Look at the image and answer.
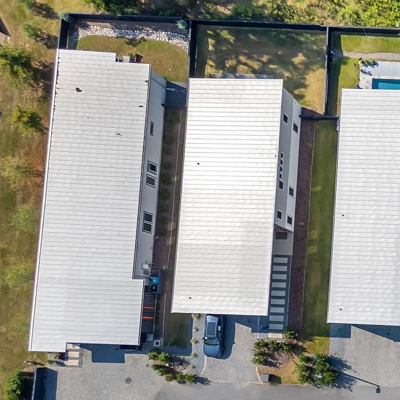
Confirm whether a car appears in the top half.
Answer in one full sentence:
No, no car can be made out in the top half.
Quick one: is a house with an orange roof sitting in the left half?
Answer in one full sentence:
No, no house with an orange roof can be made out in the left half.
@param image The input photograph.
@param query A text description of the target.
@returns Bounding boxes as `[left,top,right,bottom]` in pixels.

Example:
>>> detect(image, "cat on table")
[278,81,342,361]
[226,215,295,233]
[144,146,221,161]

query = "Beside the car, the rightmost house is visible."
[169,78,301,316]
